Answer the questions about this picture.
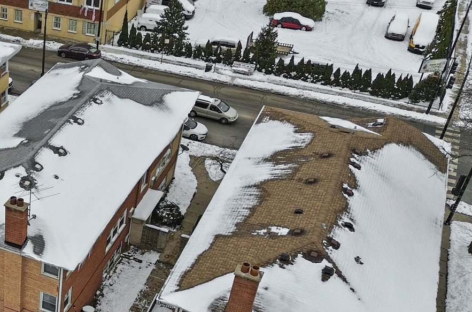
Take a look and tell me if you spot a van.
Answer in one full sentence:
Yes, a van is visible in the scene.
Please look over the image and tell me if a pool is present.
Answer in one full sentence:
No, the picture doesn't show any pool.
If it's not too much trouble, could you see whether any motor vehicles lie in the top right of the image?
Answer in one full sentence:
Yes, the scene does show a motor vehicle in the top right of the image.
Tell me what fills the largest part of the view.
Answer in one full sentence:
What you mostly see from above here is buildings.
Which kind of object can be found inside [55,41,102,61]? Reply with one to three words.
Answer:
car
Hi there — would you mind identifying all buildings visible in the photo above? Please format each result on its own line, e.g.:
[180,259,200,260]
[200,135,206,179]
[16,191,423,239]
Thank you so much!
[0,0,144,44]
[156,104,448,312]
[0,61,198,312]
